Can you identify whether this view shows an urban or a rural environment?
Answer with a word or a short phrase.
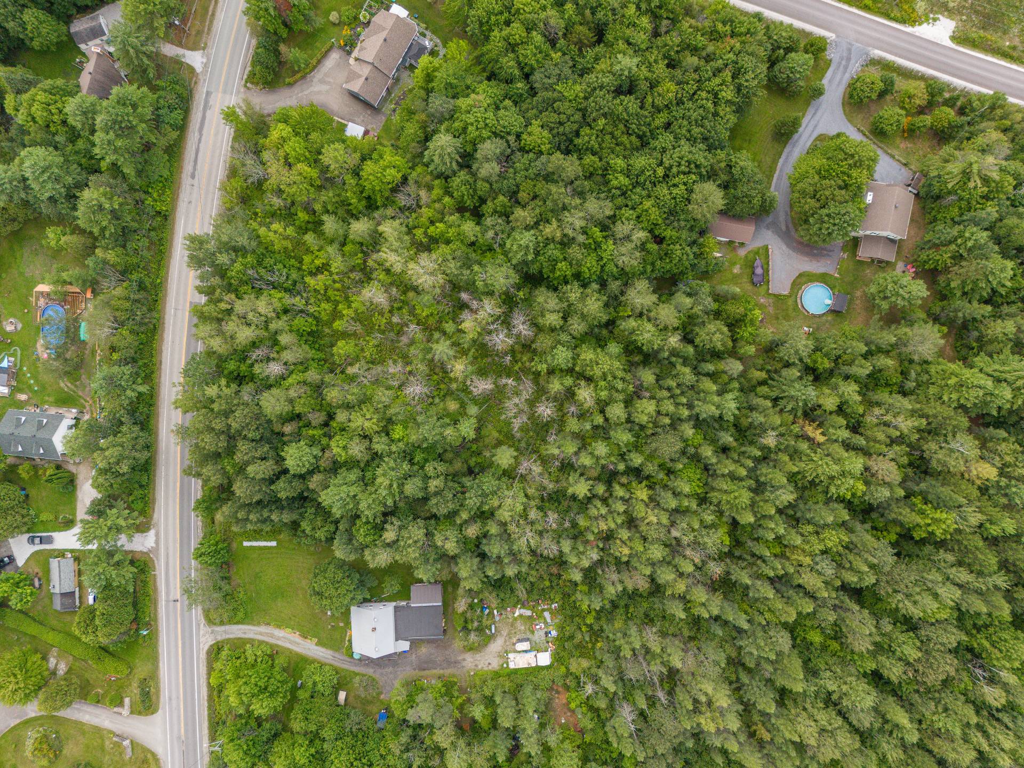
rural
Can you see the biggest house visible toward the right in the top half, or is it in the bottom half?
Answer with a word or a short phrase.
top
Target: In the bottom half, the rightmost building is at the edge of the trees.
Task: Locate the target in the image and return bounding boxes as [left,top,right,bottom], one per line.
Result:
[351,580,444,663]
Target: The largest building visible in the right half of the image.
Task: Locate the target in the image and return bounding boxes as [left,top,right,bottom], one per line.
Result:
[849,182,914,265]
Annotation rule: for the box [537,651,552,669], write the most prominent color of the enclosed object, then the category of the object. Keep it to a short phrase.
white vehicle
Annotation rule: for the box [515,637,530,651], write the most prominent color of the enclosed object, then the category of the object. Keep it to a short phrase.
white boat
